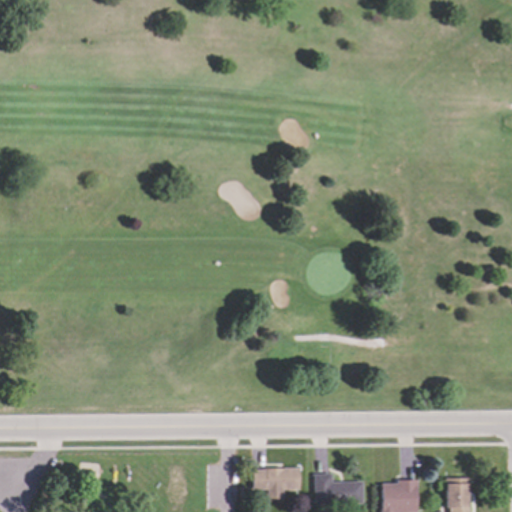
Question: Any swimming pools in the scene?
No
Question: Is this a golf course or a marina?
golf course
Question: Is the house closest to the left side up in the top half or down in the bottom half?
bottom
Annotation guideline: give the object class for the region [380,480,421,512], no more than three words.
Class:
house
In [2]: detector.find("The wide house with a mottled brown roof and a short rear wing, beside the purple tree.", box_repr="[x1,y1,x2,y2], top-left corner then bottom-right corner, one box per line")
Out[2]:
[252,469,302,501]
